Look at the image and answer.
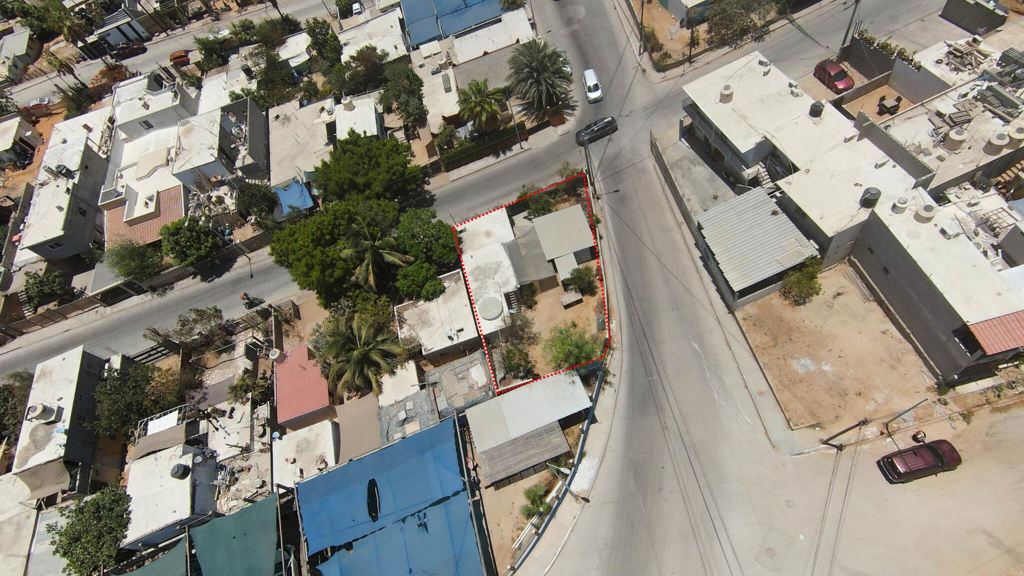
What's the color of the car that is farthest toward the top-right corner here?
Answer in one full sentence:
In this view, the car that is farthest toward the top-right corner is red.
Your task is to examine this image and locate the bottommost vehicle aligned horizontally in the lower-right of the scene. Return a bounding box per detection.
[876,440,963,483]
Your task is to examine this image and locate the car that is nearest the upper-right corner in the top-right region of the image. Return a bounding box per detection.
[808,58,858,96]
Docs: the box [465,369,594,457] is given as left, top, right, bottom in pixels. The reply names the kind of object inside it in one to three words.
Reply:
shed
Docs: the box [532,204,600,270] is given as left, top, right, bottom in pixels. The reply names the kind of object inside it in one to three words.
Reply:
shed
